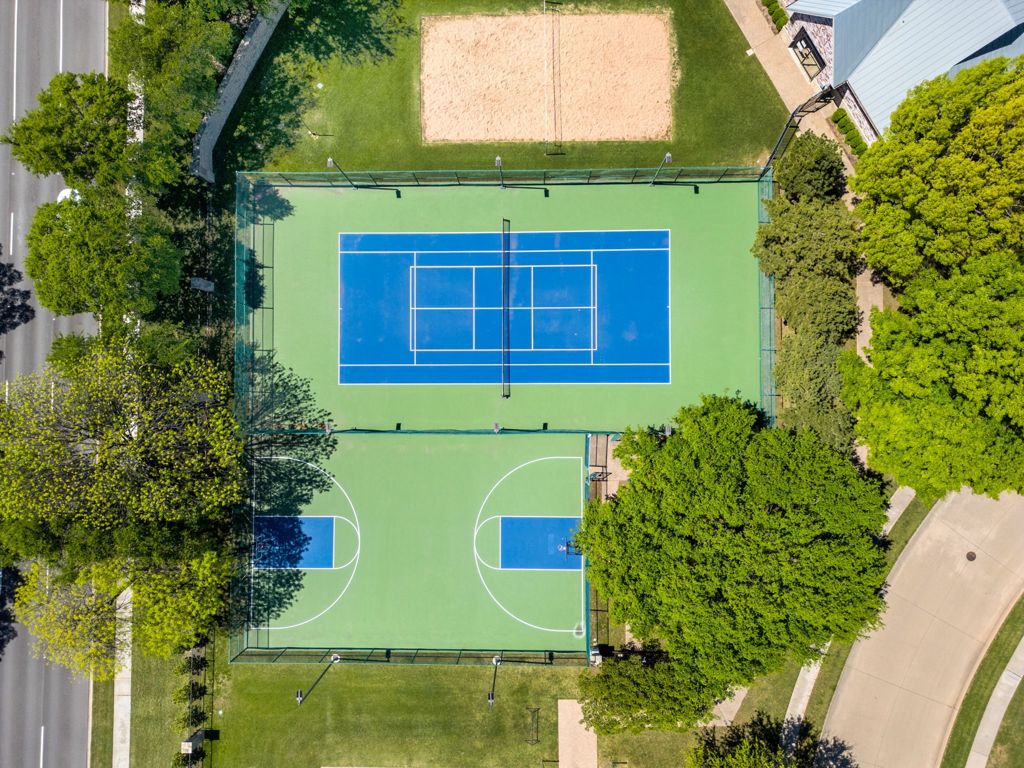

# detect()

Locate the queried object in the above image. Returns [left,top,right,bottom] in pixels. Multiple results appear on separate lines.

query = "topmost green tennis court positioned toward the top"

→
[249,179,763,431]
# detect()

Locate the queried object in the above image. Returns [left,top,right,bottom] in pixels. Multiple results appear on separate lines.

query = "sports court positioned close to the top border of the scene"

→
[421,13,672,143]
